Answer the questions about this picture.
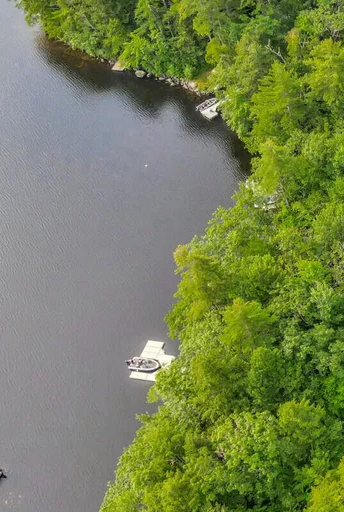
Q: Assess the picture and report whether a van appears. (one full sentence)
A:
No, there appears to be no van in this shot.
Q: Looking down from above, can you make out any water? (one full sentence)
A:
Yes, water can be seen from above here.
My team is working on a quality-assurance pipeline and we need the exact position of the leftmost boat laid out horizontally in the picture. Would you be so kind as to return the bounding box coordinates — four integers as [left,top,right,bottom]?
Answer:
[126,357,162,372]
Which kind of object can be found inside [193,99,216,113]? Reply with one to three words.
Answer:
boat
